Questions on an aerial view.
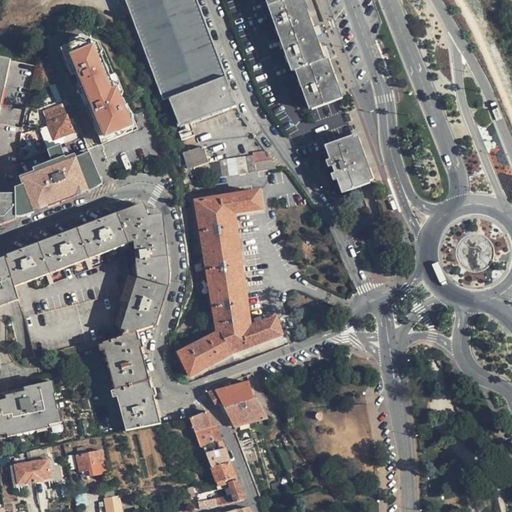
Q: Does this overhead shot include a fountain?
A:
Yes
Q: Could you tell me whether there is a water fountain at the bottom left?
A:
No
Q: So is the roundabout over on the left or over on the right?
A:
right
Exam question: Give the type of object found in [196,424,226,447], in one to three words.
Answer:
house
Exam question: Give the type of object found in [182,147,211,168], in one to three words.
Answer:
shed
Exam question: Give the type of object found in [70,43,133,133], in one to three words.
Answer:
house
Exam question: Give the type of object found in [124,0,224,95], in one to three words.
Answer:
building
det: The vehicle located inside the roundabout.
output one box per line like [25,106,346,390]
[435,262,448,284]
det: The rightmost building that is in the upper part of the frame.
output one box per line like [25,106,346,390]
[324,134,374,192]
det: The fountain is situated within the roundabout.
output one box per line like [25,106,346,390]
[456,232,495,272]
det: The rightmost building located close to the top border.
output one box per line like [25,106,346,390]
[264,0,342,111]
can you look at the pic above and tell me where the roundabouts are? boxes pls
[417,194,512,311]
